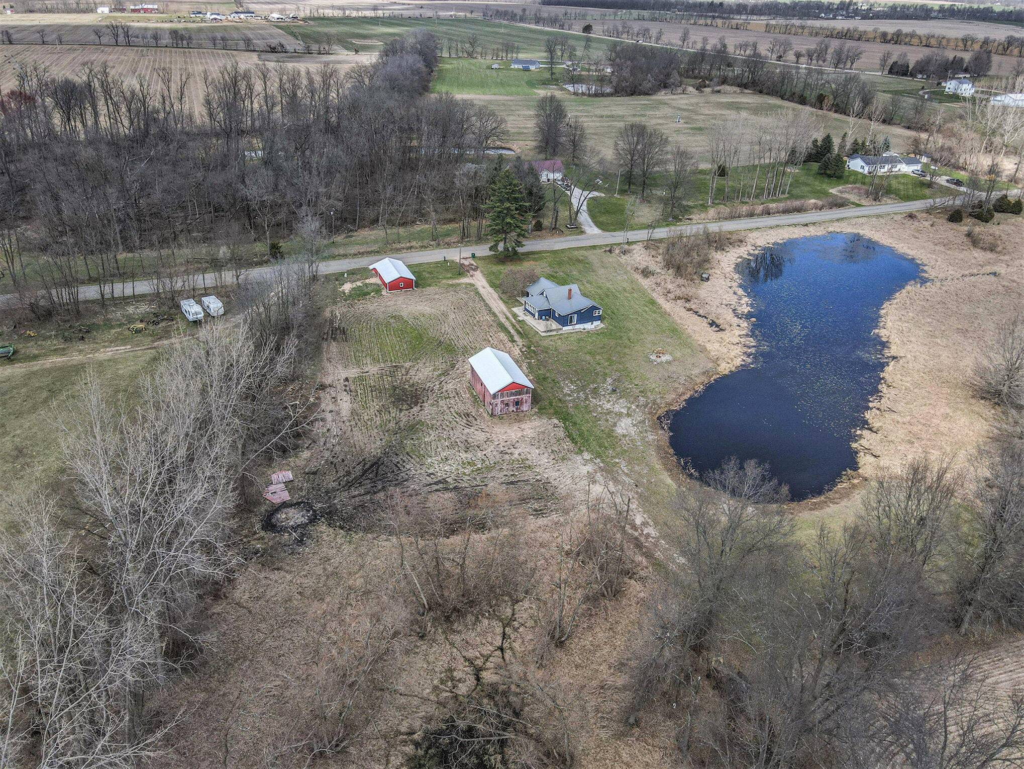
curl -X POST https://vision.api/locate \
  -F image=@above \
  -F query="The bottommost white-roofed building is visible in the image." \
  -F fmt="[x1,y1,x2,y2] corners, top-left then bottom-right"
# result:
[472,347,534,416]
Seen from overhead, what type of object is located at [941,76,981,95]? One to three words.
house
